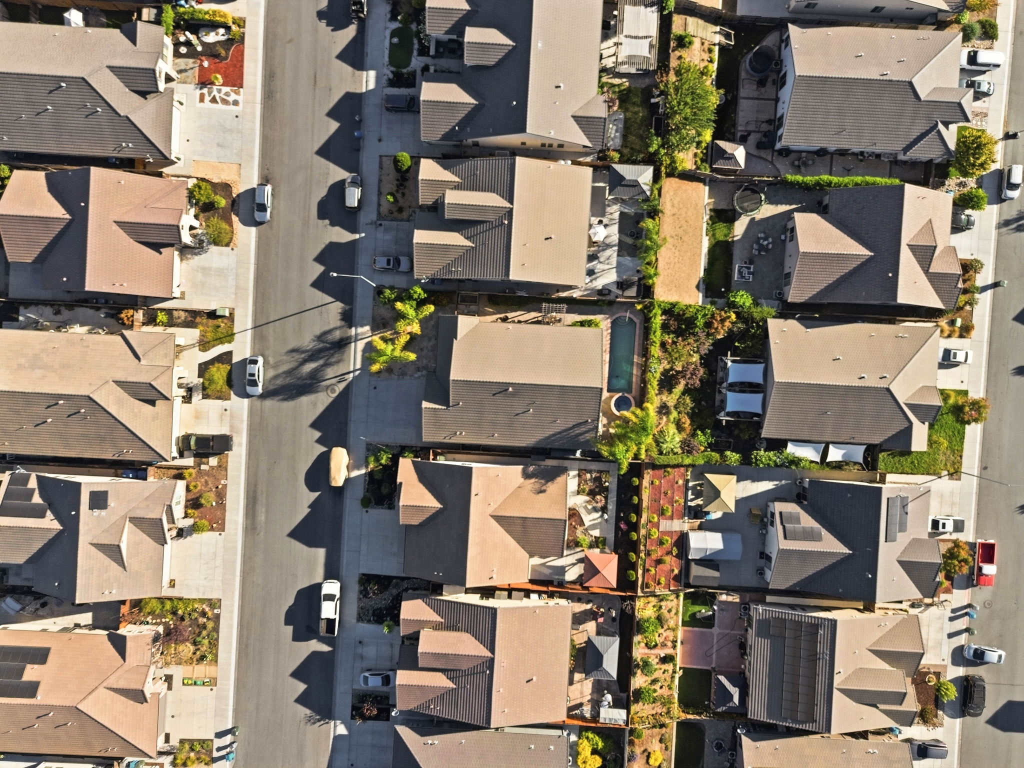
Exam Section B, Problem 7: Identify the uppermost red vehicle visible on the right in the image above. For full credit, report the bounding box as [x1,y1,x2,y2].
[972,539,999,585]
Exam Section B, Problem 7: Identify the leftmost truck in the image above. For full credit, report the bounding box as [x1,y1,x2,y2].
[177,434,234,455]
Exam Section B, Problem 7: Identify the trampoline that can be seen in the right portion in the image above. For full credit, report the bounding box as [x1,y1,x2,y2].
[732,178,772,216]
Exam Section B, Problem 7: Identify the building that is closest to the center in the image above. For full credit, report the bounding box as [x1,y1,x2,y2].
[422,315,602,450]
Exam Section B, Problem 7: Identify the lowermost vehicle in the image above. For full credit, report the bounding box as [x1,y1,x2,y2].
[910,738,951,760]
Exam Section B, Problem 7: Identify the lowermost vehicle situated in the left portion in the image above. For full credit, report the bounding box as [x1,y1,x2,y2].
[359,668,398,690]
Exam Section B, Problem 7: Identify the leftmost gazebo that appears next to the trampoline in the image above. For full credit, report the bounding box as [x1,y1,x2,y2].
[714,141,745,169]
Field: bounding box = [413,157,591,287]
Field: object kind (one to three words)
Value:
house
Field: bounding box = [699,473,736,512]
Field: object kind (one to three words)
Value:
gazebo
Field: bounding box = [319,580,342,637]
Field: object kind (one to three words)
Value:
truck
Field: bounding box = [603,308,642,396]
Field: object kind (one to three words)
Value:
swimming pool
